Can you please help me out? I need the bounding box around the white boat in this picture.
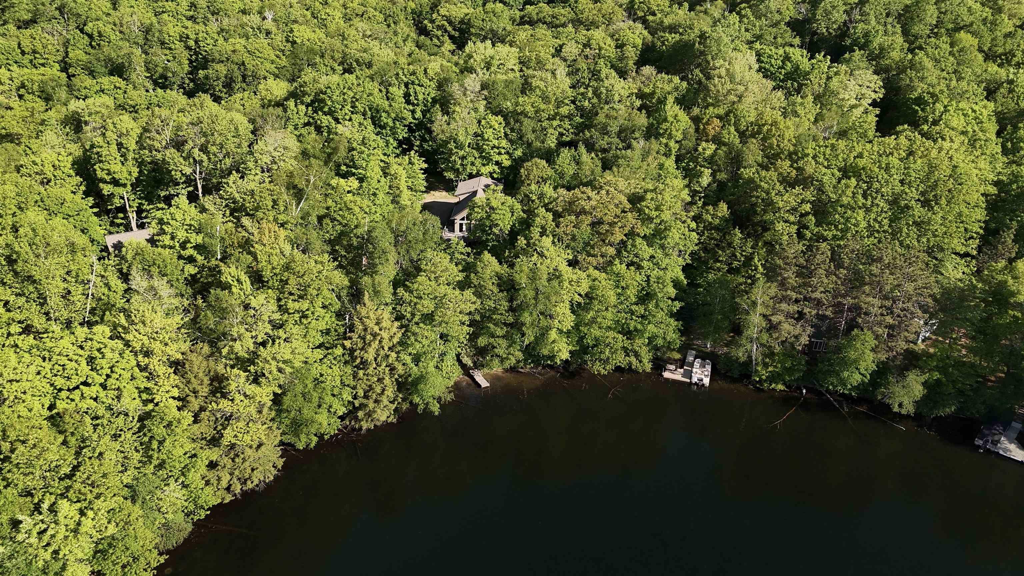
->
[692,359,711,392]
